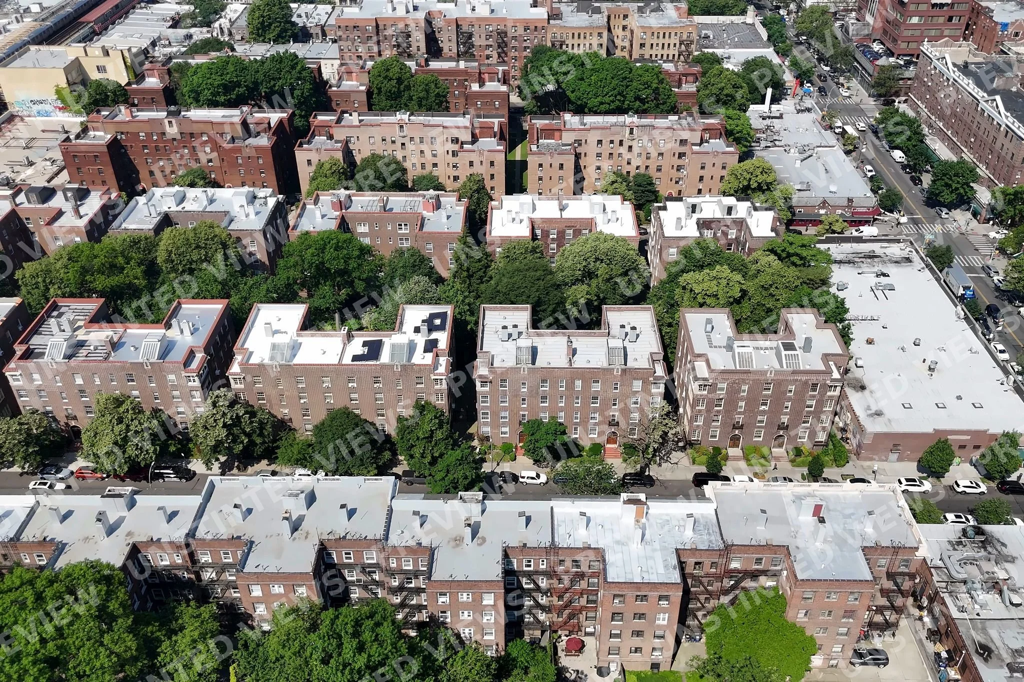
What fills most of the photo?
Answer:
buildings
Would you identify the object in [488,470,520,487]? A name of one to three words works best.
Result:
car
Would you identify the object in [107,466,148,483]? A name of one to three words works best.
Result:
car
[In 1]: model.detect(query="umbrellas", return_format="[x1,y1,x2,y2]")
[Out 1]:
[595,662,615,682]
[562,633,587,658]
